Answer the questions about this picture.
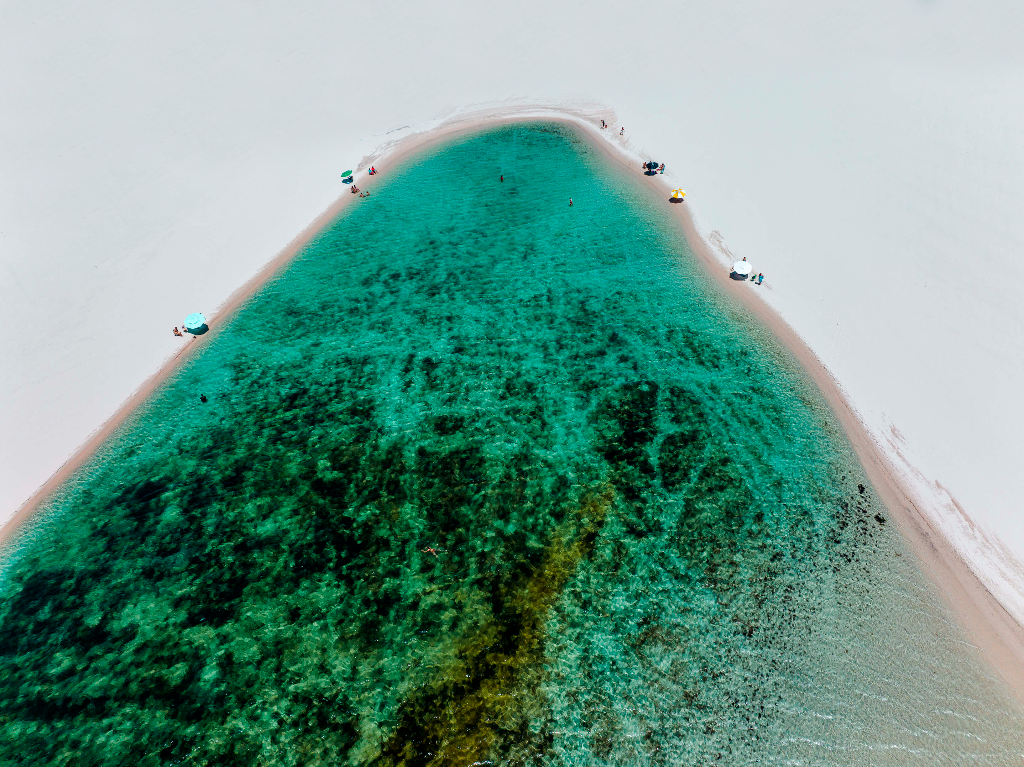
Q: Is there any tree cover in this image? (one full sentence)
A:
No, the scene doesn't show any tree cover.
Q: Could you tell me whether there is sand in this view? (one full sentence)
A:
Yes, sand can be seen from above here.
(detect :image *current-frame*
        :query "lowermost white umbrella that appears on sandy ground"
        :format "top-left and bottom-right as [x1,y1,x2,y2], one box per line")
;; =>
[733,260,753,278]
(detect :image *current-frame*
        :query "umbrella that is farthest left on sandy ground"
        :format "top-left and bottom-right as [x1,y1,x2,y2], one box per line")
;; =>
[183,313,207,332]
